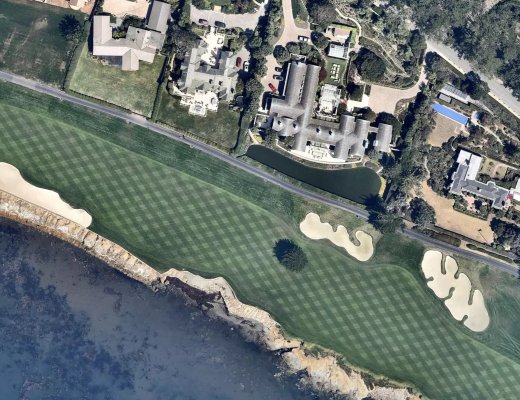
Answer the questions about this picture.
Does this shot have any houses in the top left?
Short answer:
Yes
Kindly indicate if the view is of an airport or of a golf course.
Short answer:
golf course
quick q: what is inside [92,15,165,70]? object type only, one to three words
house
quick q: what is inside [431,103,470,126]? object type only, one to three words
swimming pool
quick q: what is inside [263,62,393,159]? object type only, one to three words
house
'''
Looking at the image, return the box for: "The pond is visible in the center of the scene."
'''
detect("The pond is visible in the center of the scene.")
[247,144,381,203]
